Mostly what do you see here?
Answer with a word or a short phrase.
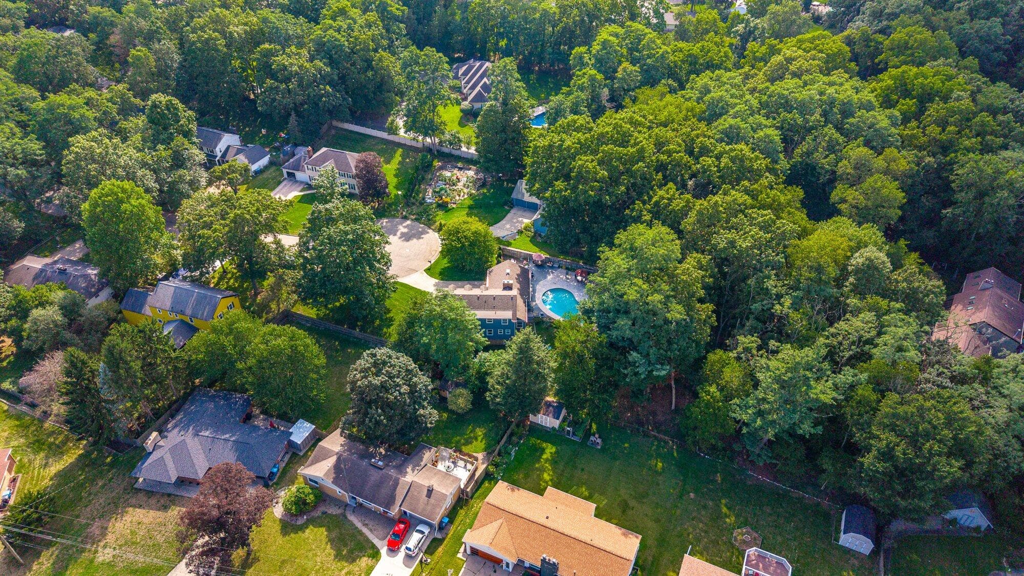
trees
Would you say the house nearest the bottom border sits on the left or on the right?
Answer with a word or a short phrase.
right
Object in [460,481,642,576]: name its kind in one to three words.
house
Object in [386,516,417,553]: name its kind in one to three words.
car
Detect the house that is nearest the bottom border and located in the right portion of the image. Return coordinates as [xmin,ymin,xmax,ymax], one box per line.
[678,546,744,576]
